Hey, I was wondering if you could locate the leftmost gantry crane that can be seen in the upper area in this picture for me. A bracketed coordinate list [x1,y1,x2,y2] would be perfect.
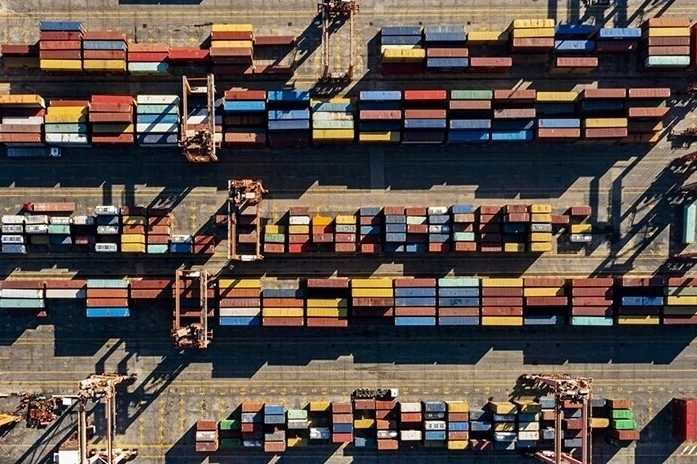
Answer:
[174,73,233,174]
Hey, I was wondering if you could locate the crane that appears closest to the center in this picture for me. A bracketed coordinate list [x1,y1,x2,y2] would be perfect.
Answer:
[228,167,278,265]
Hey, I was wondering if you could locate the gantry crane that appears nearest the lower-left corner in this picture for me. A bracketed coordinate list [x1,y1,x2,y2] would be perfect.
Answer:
[73,374,143,464]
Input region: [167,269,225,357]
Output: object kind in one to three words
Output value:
container crane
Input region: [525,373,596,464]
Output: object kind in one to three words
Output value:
container crane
